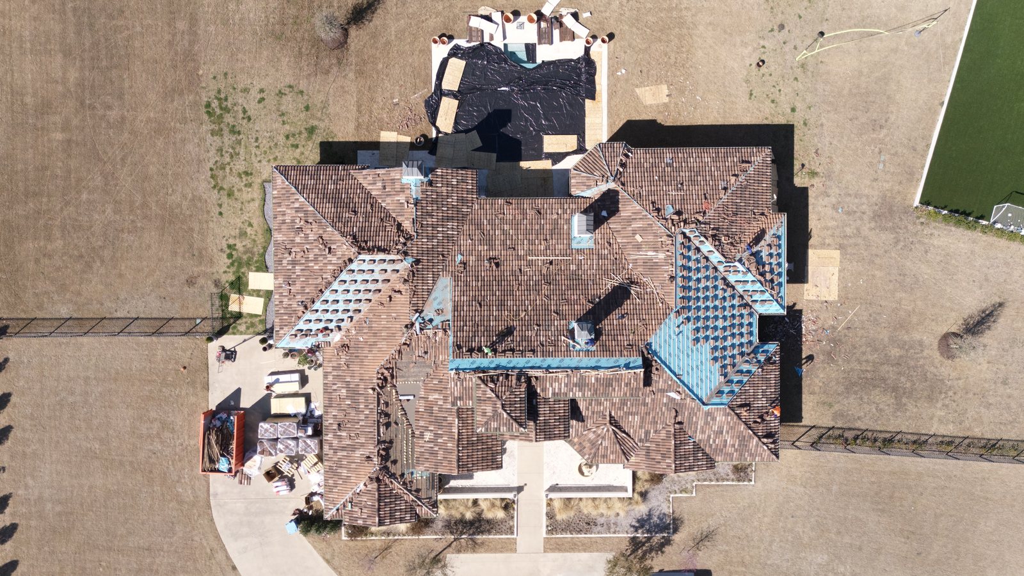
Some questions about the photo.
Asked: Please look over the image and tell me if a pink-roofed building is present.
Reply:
No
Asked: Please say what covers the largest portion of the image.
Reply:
grass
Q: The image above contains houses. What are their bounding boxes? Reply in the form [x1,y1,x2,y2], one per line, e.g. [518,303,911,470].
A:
[271,141,788,528]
